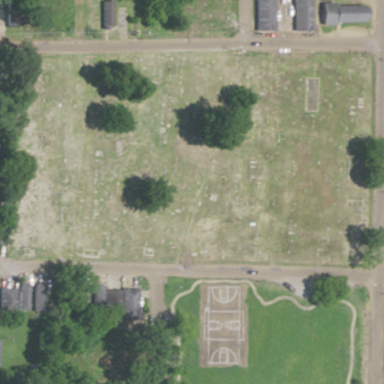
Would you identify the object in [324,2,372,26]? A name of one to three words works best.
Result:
building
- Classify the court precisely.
basketball court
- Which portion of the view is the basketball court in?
bottom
